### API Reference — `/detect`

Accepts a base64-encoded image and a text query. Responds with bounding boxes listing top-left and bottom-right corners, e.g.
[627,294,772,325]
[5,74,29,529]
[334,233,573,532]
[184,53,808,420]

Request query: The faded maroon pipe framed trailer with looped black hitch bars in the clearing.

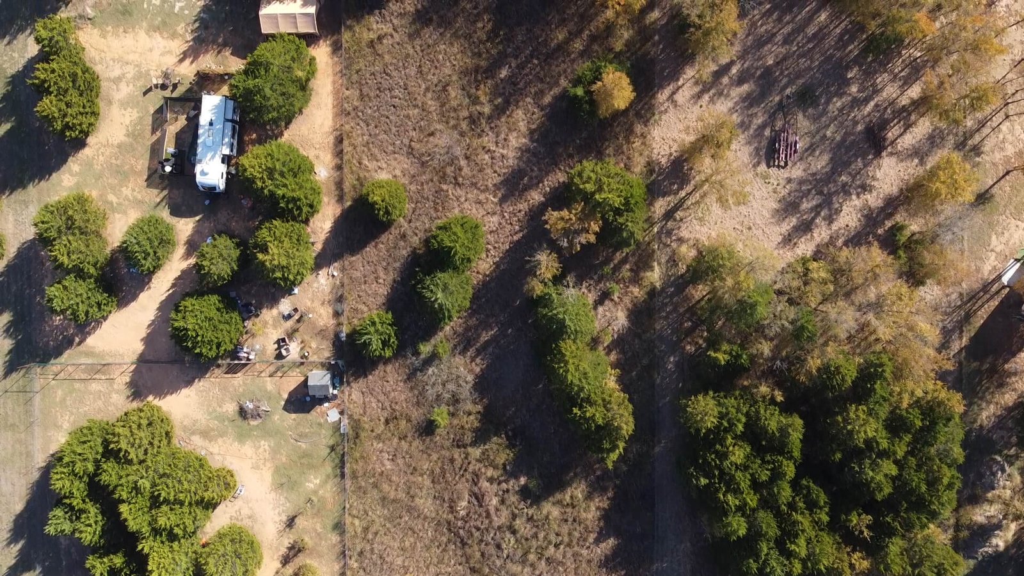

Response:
[776,91,802,168]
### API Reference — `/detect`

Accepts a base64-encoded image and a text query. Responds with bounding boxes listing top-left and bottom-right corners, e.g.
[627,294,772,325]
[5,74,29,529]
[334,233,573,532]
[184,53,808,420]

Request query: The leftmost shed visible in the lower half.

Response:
[308,369,339,402]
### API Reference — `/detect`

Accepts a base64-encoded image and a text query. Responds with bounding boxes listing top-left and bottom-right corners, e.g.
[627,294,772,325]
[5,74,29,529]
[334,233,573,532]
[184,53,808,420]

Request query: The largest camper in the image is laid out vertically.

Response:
[197,96,245,199]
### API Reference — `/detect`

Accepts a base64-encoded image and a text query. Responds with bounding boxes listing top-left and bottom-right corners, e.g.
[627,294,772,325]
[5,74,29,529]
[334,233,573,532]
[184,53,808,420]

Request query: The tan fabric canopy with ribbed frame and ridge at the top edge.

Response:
[258,0,326,50]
